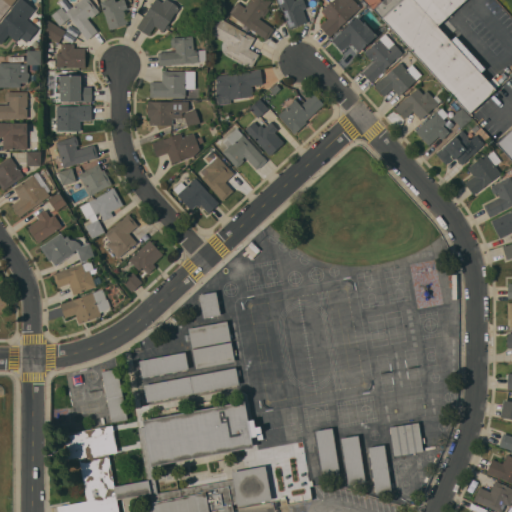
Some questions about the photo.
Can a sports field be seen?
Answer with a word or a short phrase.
Yes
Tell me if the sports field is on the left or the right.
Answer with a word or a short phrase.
right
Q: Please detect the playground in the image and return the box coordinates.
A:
[410,260,444,310]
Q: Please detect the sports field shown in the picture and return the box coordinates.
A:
[270,150,440,266]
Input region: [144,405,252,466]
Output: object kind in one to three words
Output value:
building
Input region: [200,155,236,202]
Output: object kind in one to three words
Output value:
house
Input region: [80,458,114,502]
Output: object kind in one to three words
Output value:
building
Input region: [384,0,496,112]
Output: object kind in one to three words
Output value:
warehouse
